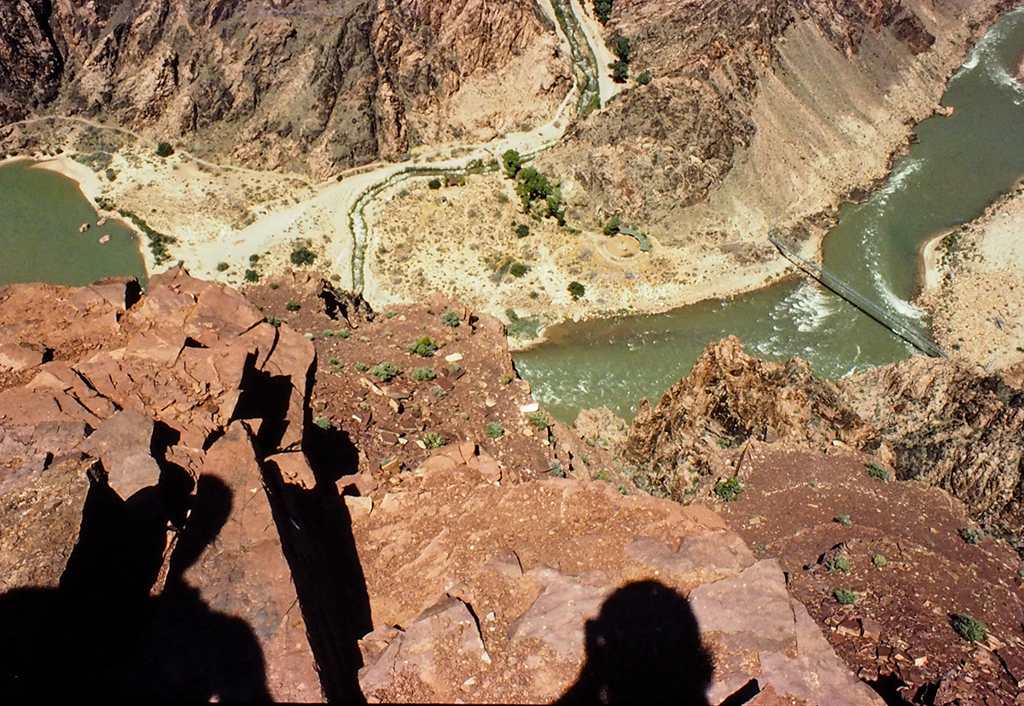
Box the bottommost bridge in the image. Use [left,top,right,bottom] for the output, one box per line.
[750,220,967,360]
